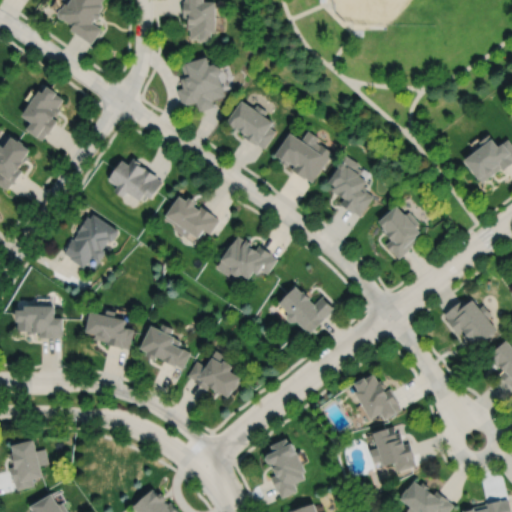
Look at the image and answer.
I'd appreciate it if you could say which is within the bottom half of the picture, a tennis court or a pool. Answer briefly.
pool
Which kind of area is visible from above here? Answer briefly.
residential area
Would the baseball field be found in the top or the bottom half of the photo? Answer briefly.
top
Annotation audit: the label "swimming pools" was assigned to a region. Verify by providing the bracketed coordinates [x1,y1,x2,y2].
[324,400,353,431]
[345,439,376,476]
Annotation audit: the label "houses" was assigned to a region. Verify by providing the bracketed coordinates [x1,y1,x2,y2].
[190,352,240,396]
[276,132,331,182]
[378,208,420,259]
[464,138,512,182]
[58,0,105,44]
[64,214,116,268]
[12,441,50,491]
[0,138,28,189]
[30,488,78,512]
[229,102,276,151]
[140,326,192,368]
[396,482,454,512]
[354,377,402,420]
[326,156,376,214]
[372,428,416,474]
[445,300,496,342]
[214,238,278,283]
[180,58,229,111]
[23,87,63,140]
[133,488,188,512]
[108,159,162,205]
[494,336,512,385]
[279,286,334,330]
[85,314,134,350]
[166,197,218,240]
[16,306,64,339]
[266,441,308,498]
[462,501,512,512]
[182,0,216,43]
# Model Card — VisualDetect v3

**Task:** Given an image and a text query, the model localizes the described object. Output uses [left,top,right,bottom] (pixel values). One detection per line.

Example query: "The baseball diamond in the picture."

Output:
[331,0,436,28]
